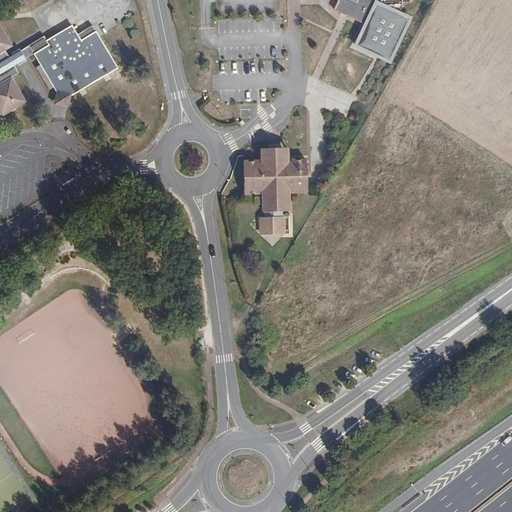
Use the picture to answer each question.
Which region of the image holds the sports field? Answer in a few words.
bottom left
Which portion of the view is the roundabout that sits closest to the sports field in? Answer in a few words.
bottom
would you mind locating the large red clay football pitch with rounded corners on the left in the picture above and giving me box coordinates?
[0,289,151,487]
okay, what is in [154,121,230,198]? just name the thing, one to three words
roundabout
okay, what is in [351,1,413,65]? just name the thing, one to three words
building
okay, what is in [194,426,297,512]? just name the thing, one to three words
roundabout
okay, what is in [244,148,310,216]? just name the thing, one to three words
house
